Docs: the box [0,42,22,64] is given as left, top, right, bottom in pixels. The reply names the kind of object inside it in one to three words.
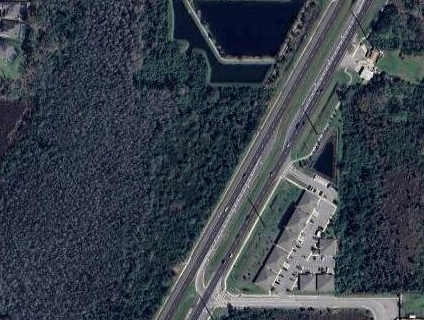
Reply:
house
